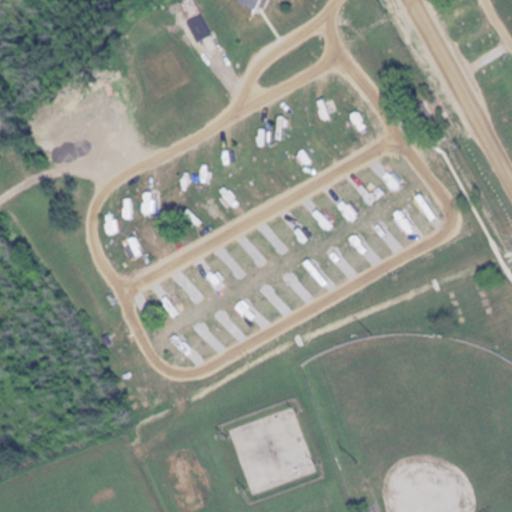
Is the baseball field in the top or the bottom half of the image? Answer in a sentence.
The baseball field is in the bottom half of the image.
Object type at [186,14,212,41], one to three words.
building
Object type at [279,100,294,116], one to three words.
vehicle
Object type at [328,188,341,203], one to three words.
vehicle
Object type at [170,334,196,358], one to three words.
camper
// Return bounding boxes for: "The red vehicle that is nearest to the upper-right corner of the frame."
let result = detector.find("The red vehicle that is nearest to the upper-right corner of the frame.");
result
[350,172,365,188]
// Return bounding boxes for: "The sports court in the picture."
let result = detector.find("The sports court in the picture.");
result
[218,399,324,505]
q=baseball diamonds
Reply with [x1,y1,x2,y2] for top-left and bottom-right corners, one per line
[301,334,512,512]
